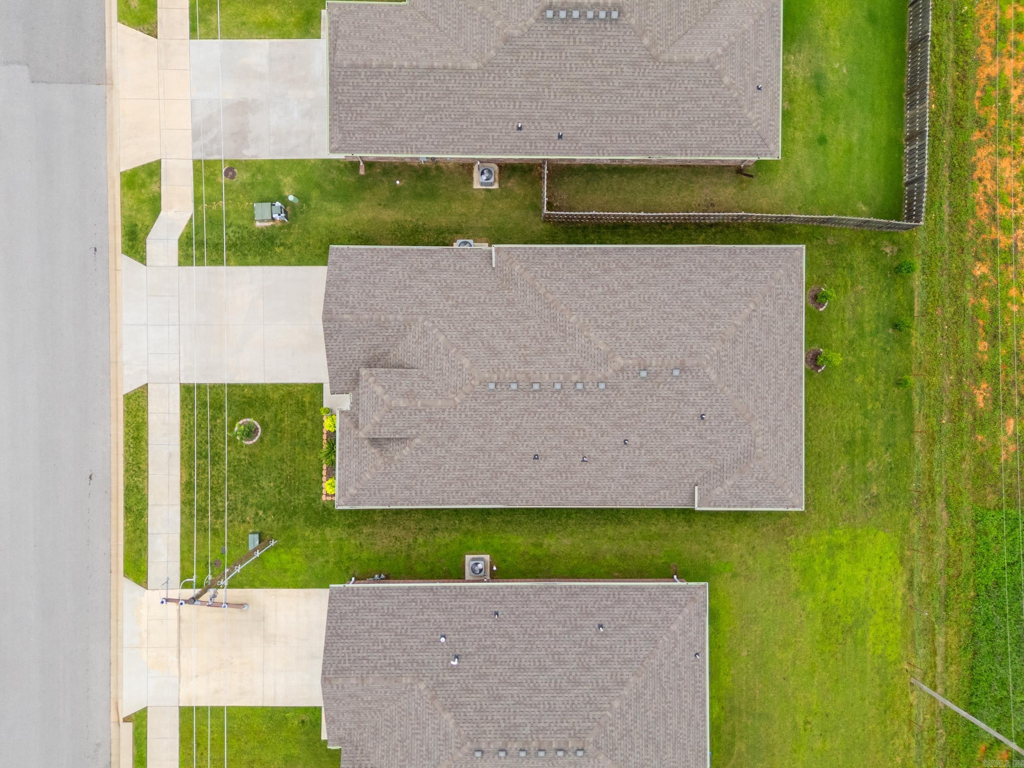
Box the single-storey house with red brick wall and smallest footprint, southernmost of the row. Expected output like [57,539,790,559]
[319,570,708,768]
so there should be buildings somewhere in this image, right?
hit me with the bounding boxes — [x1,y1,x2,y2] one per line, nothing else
[319,570,708,768]
[320,244,806,510]
[332,0,782,168]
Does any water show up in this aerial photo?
No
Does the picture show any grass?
Yes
